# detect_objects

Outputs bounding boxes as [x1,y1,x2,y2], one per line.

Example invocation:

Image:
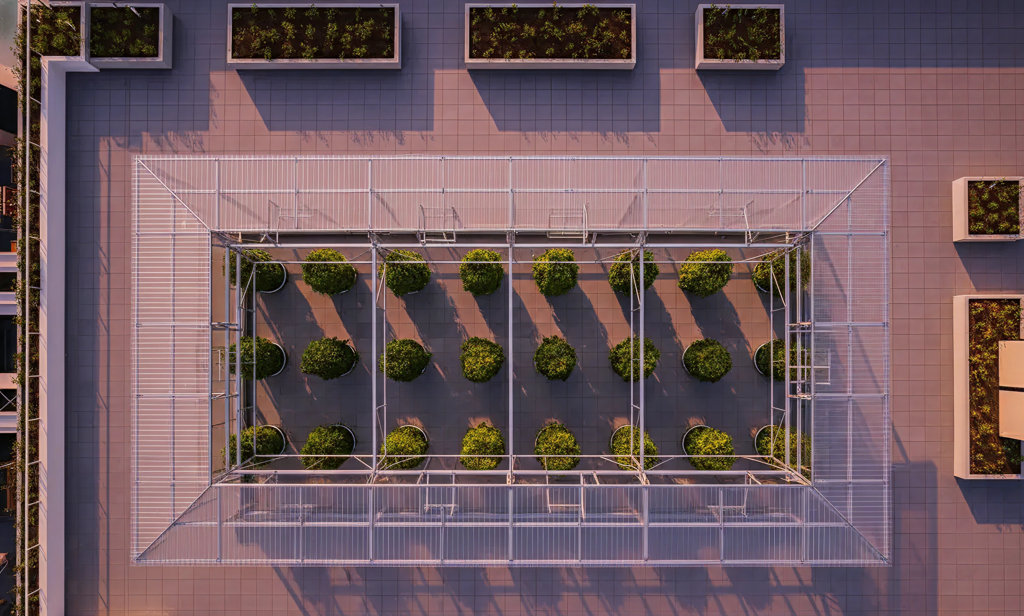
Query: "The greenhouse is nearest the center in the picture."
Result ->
[129,152,895,570]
